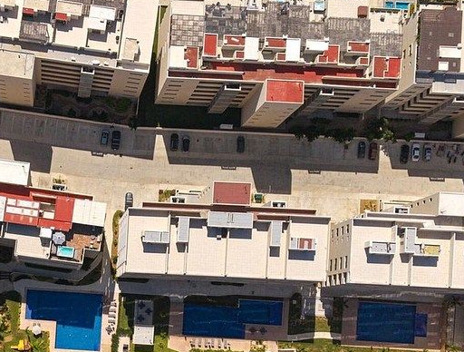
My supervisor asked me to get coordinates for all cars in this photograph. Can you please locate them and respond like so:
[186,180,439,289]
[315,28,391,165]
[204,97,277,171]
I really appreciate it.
[367,141,377,161]
[101,128,109,147]
[125,191,134,211]
[183,134,191,153]
[357,140,366,160]
[399,145,409,164]
[236,135,244,153]
[423,145,432,161]
[411,144,420,162]
[170,132,178,151]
